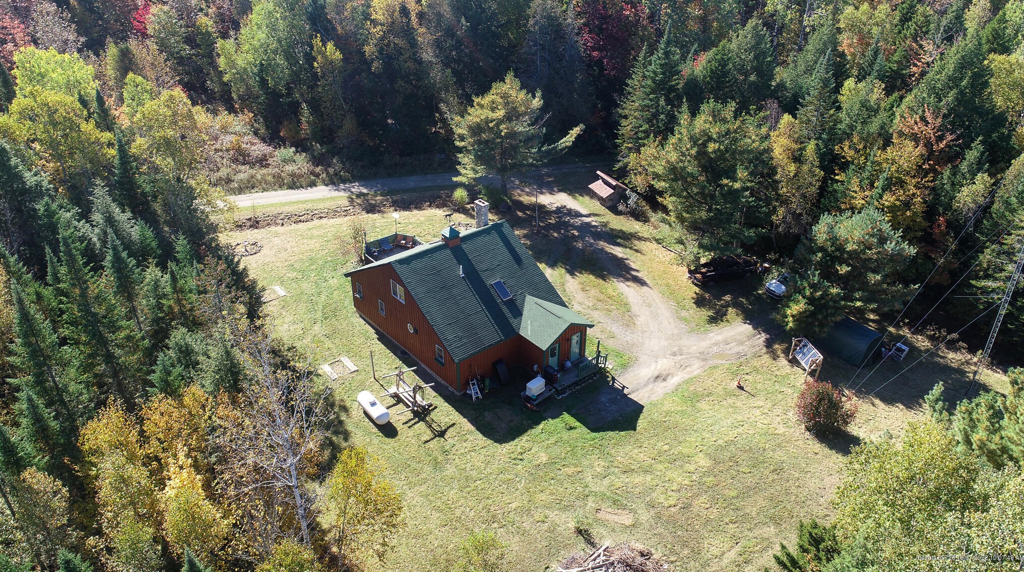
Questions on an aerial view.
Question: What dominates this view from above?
trees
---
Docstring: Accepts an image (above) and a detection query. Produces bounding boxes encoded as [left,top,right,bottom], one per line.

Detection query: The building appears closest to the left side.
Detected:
[343,199,612,397]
